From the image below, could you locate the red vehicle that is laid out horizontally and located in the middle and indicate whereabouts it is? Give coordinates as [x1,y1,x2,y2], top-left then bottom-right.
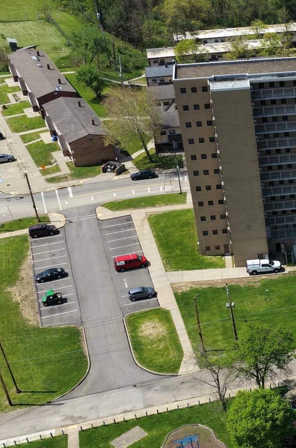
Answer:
[110,252,150,271]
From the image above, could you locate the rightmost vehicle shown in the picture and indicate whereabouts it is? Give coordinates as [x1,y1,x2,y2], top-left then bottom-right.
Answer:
[243,258,285,276]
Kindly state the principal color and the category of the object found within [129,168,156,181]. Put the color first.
black vehicle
